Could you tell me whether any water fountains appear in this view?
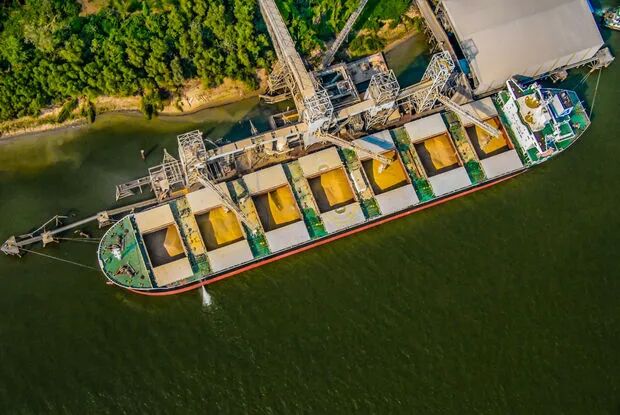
No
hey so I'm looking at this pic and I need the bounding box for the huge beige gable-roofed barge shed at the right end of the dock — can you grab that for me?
[435,0,605,95]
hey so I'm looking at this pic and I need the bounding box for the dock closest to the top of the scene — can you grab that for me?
[287,66,364,115]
